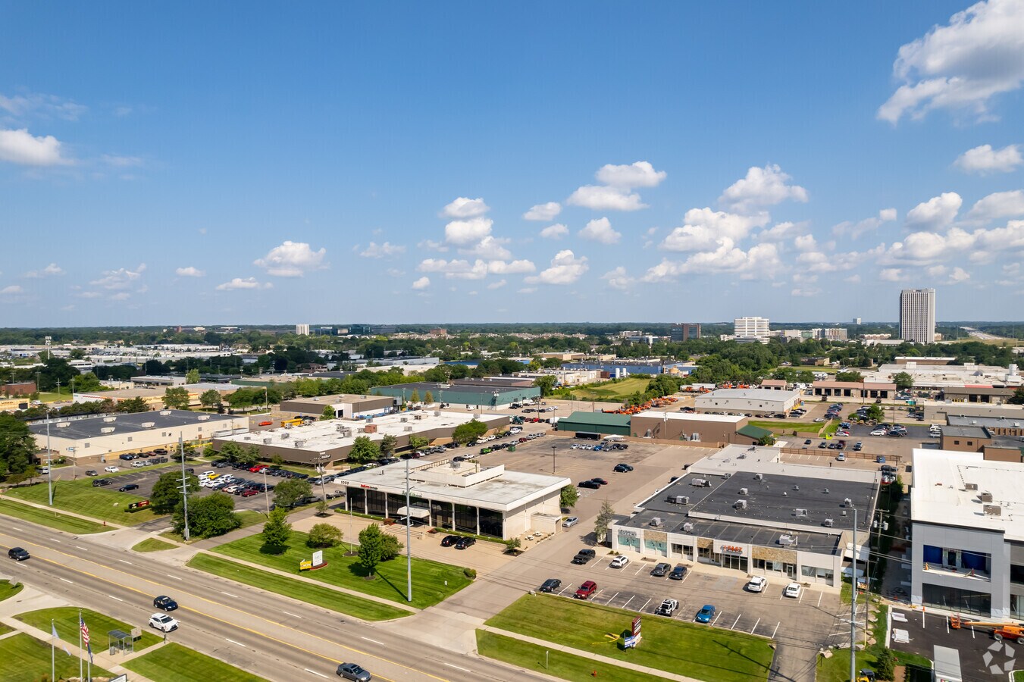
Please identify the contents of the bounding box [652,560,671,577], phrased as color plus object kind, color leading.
gray car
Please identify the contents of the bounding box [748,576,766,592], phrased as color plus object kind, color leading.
white car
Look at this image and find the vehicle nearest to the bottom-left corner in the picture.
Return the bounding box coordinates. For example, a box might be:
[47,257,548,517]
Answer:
[8,546,29,560]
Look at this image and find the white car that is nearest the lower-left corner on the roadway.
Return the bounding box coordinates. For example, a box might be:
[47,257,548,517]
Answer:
[149,611,178,632]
